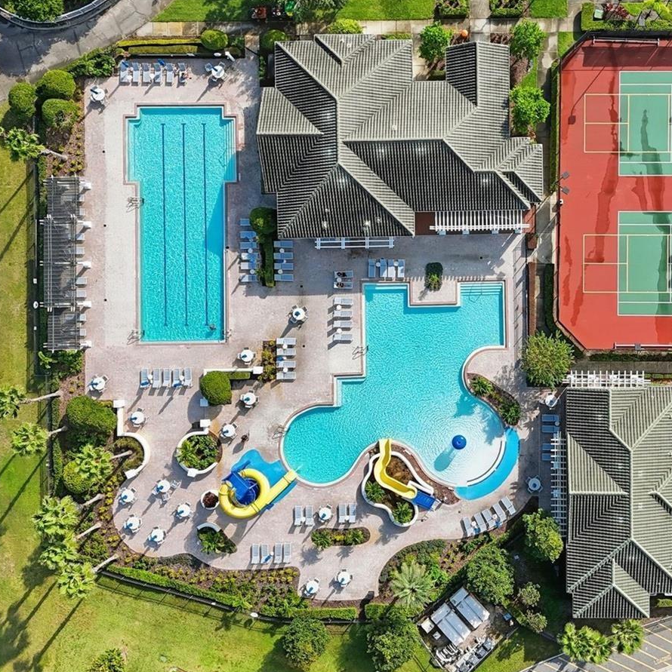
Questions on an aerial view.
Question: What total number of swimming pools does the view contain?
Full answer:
The count of swimming pools comes to 2.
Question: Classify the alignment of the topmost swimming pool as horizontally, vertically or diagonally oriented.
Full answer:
From this overhead view, the topmost swimming pool appears to run vertically.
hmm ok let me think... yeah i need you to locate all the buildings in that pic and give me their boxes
[566,386,672,619]
[250,32,543,238]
